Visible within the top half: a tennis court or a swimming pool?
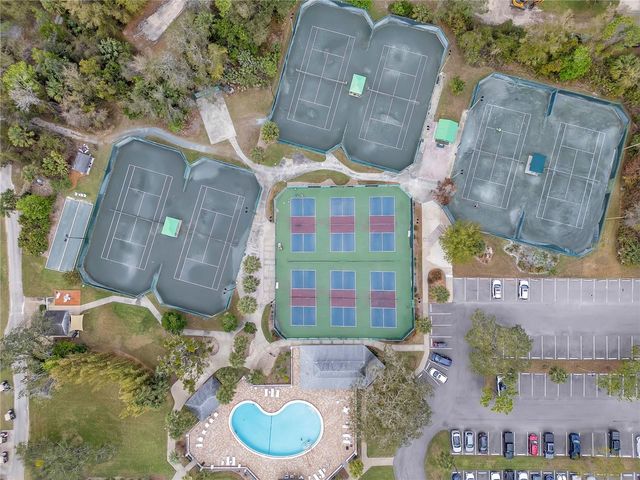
tennis court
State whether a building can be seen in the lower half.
Yes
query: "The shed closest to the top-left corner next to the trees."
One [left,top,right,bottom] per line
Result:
[73,152,95,174]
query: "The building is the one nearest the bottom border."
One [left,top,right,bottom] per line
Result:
[185,375,228,421]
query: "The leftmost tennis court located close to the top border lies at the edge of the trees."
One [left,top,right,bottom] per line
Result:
[269,4,372,153]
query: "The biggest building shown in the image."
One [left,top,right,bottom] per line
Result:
[299,344,382,389]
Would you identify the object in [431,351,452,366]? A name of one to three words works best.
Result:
car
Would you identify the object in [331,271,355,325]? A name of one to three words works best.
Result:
sports court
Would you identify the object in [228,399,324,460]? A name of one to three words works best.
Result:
swimming pool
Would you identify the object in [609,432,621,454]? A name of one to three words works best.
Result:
vehicle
